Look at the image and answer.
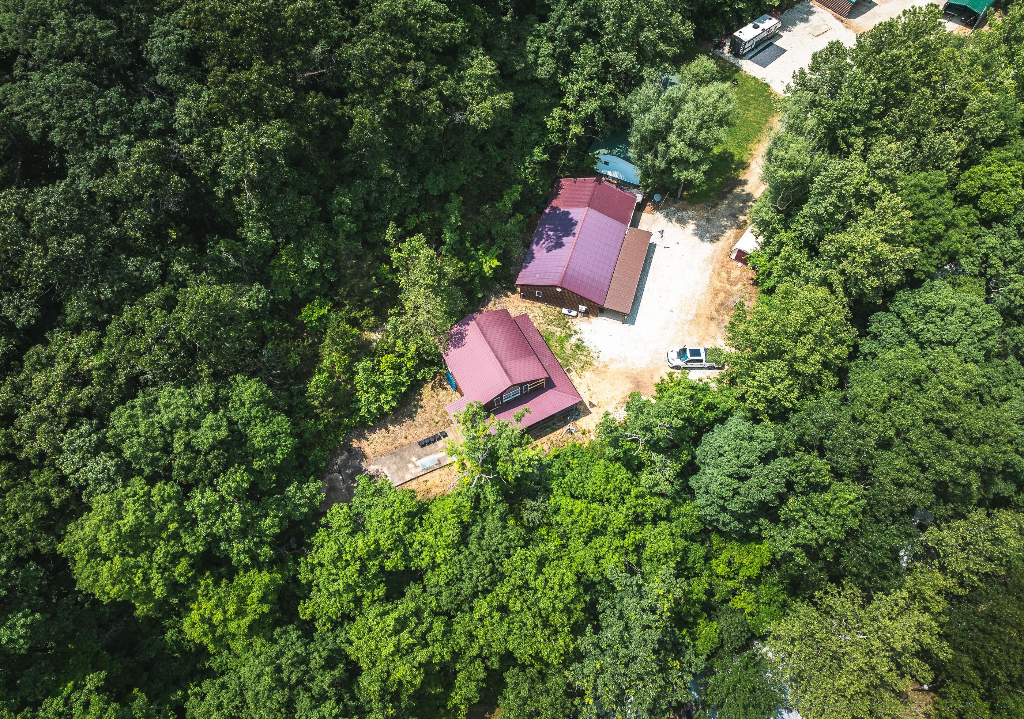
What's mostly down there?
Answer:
trees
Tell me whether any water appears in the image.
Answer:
No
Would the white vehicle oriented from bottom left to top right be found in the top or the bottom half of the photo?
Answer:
top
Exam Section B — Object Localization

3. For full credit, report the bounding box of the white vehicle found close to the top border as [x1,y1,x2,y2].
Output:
[728,14,778,57]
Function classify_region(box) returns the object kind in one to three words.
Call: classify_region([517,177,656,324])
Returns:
house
